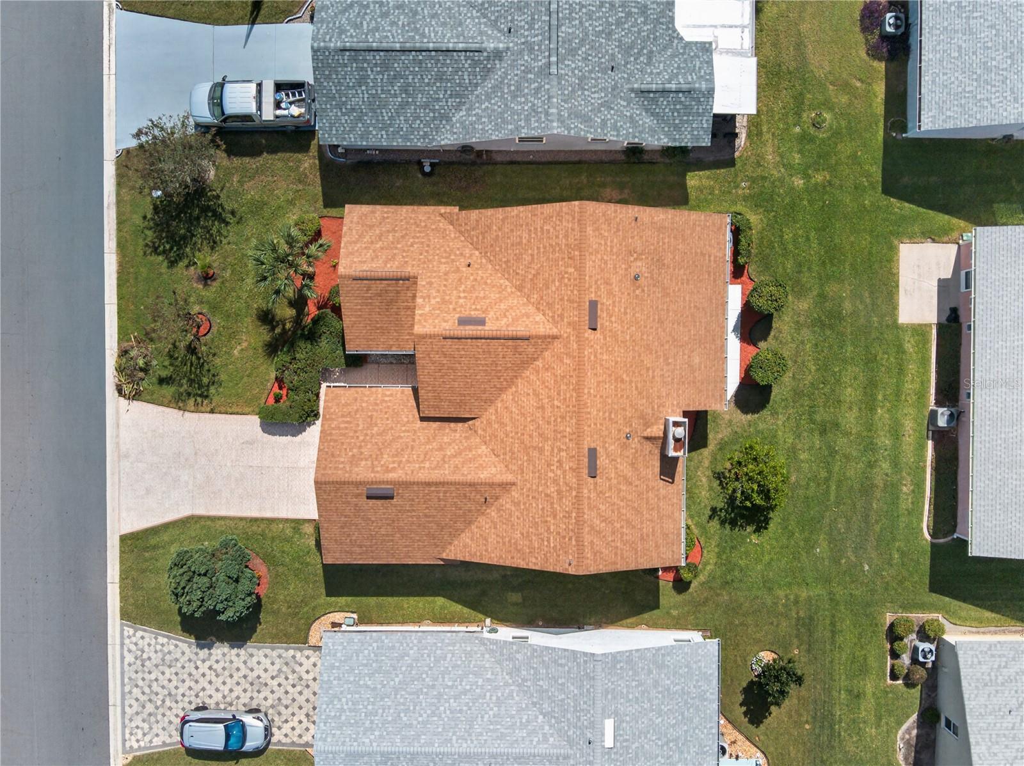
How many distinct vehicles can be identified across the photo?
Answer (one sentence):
The photo contains 2 vehicles.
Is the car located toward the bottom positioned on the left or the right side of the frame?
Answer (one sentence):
The car located toward the bottom is on the left side of the image.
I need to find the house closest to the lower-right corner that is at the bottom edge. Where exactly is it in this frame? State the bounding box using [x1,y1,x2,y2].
[935,635,1024,766]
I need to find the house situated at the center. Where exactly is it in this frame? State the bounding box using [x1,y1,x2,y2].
[315,200,732,574]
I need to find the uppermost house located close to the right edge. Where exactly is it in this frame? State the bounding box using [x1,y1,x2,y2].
[907,0,1024,138]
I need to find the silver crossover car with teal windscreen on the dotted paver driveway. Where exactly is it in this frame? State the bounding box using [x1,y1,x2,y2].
[179,708,274,758]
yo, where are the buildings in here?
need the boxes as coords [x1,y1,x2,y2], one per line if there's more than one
[935,635,1024,766]
[314,627,724,766]
[315,200,732,574]
[310,0,757,151]
[907,0,1024,138]
[954,224,1024,560]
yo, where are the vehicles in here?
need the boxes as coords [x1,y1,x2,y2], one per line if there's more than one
[191,75,317,130]
[179,708,274,758]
